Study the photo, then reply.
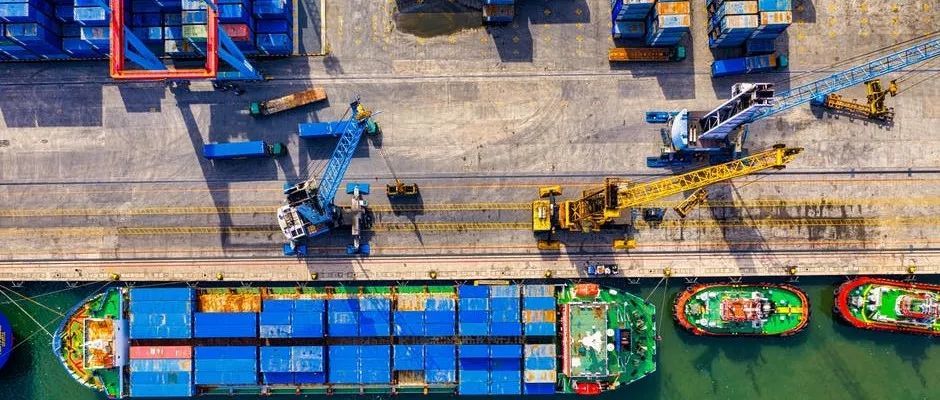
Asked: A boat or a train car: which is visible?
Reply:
boat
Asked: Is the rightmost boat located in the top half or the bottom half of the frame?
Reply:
bottom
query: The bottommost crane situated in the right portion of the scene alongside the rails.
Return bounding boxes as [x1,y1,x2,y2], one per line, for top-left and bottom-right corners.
[530,139,806,250]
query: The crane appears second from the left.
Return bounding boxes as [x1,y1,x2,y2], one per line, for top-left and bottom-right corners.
[273,95,373,255]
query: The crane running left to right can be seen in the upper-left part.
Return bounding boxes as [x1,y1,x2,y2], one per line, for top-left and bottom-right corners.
[90,0,274,84]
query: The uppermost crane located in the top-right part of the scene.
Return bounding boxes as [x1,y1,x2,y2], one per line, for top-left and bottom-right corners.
[643,29,940,167]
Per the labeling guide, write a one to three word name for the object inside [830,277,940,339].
boat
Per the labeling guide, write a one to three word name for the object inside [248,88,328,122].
truck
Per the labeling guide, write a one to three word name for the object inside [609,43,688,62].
vehicle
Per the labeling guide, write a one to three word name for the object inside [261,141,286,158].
vehicle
